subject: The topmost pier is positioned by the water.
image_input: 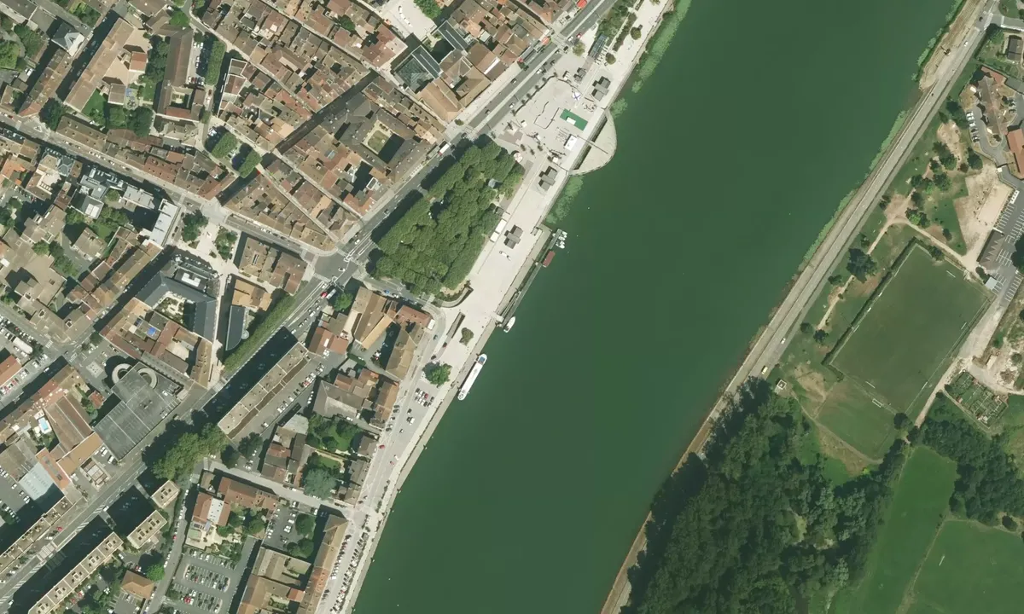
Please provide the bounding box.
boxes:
[571,113,617,174]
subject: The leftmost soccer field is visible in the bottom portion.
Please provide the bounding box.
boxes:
[816,369,907,458]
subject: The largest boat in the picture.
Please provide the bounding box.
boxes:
[457,355,486,401]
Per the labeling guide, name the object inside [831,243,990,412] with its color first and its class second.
green soccer field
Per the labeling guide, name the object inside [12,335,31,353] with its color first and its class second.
white vehicle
